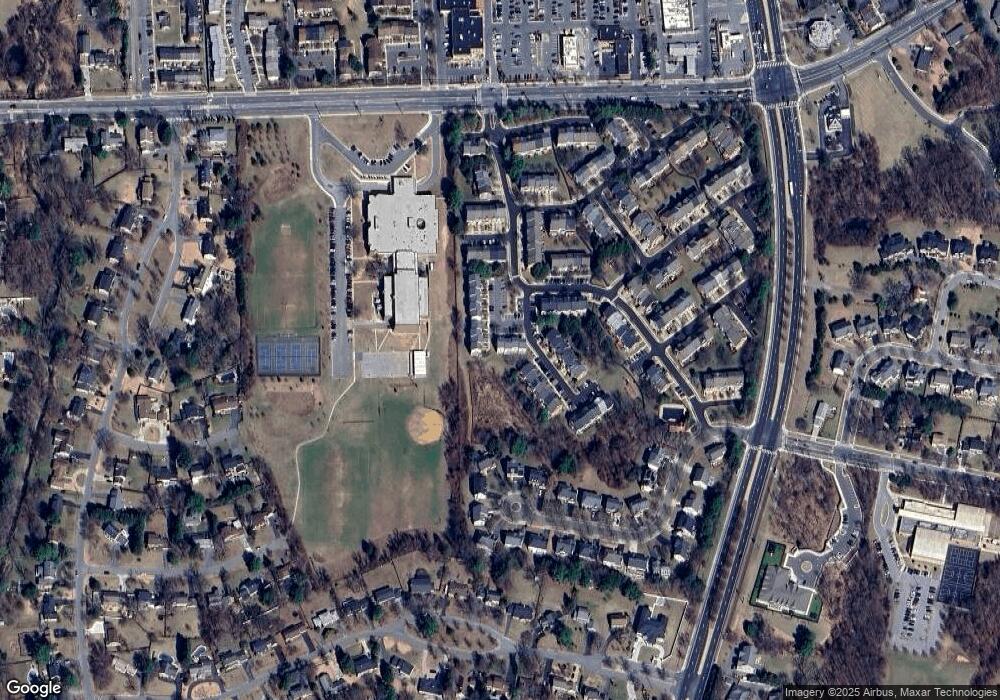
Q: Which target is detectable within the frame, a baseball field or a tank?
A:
baseball field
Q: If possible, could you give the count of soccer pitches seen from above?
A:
two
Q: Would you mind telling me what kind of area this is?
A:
residential area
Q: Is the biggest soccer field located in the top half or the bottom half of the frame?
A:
bottom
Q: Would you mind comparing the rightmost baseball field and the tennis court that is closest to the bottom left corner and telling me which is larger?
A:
the tennis court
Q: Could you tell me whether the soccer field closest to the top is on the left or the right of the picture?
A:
left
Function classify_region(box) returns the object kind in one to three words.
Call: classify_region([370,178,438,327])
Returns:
building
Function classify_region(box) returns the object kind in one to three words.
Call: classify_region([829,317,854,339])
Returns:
house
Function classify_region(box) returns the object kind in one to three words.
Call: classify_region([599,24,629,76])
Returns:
building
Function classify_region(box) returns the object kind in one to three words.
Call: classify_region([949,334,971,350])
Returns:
house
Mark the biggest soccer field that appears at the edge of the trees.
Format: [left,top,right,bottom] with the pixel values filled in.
[298,386,444,551]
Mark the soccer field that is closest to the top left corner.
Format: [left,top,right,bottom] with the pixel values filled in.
[254,206,318,334]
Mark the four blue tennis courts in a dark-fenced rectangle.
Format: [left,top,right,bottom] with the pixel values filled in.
[257,336,320,376]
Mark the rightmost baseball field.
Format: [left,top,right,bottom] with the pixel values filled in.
[404,402,443,445]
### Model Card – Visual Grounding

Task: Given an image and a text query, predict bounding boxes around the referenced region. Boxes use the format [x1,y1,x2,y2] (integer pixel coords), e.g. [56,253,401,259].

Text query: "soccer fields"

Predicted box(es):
[254,206,318,334]
[298,386,444,551]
